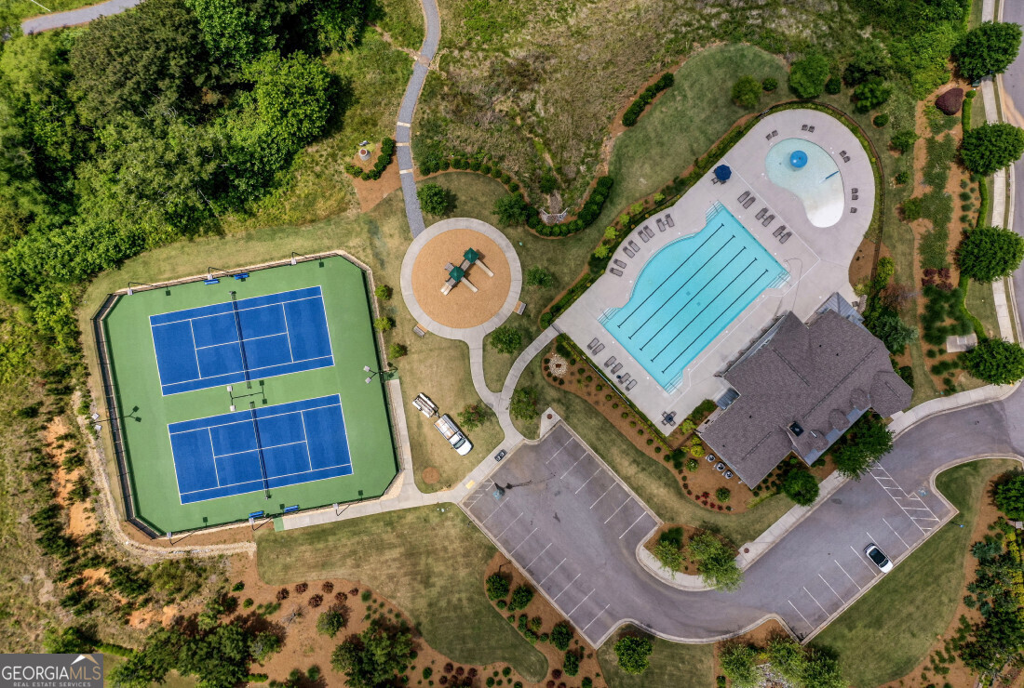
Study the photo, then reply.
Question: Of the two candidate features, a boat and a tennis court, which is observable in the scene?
tennis court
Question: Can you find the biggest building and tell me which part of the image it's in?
right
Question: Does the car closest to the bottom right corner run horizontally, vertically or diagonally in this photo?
diagonally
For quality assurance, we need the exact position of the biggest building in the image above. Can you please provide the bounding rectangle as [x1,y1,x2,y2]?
[693,292,913,489]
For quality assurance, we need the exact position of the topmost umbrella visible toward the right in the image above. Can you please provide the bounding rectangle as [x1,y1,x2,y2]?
[714,165,731,181]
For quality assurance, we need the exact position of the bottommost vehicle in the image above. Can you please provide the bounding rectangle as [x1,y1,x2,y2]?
[862,542,892,572]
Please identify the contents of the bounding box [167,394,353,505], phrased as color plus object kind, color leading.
blue tennis court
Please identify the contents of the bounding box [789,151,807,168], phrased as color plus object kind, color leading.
blue fountain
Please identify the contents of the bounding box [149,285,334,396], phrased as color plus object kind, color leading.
blue tennis court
